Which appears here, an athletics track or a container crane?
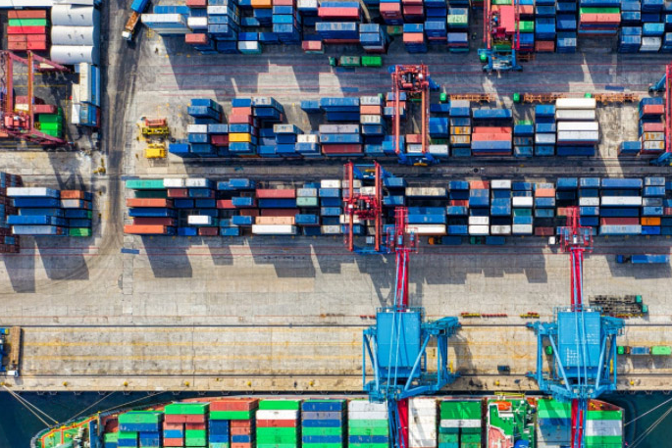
container crane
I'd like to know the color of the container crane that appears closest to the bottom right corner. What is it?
blue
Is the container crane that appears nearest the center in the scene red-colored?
Yes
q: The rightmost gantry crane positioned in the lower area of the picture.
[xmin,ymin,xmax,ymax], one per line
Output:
[523,207,621,448]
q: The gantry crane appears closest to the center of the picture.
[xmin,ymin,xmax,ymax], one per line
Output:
[343,162,396,252]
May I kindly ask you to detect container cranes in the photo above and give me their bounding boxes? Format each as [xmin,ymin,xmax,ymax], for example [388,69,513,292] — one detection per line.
[651,57,672,161]
[482,0,522,67]
[2,49,82,149]
[523,207,621,448]
[392,62,440,162]
[343,162,396,252]
[360,207,464,448]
